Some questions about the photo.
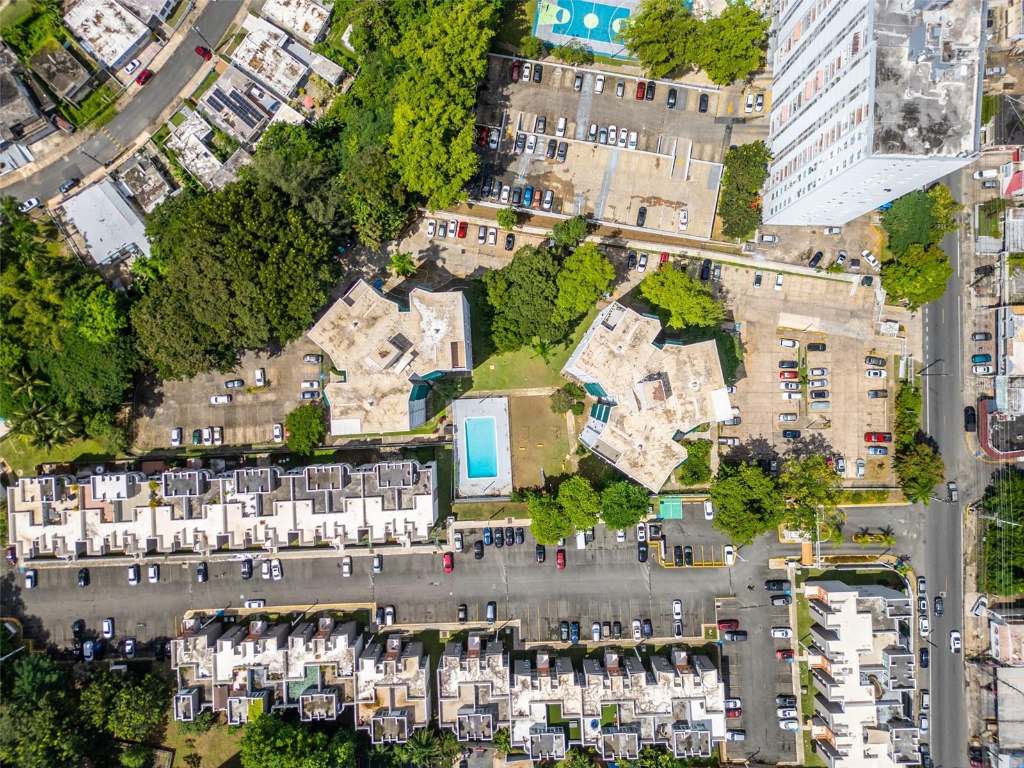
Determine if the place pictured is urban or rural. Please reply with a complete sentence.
This place is urban.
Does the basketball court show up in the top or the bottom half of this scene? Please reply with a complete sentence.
You can find the basketball court in the top half.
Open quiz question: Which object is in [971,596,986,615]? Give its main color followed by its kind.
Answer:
white car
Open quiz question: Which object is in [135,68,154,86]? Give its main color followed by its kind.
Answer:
red car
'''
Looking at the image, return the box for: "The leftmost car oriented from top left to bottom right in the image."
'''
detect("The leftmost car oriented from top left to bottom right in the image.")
[52,114,73,132]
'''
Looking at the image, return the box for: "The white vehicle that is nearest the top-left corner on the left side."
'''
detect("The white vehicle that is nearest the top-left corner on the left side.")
[124,59,142,75]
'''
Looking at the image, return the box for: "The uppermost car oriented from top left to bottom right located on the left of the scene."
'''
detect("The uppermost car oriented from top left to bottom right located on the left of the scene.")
[194,45,213,62]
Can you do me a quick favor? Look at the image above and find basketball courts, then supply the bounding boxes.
[521,0,660,64]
